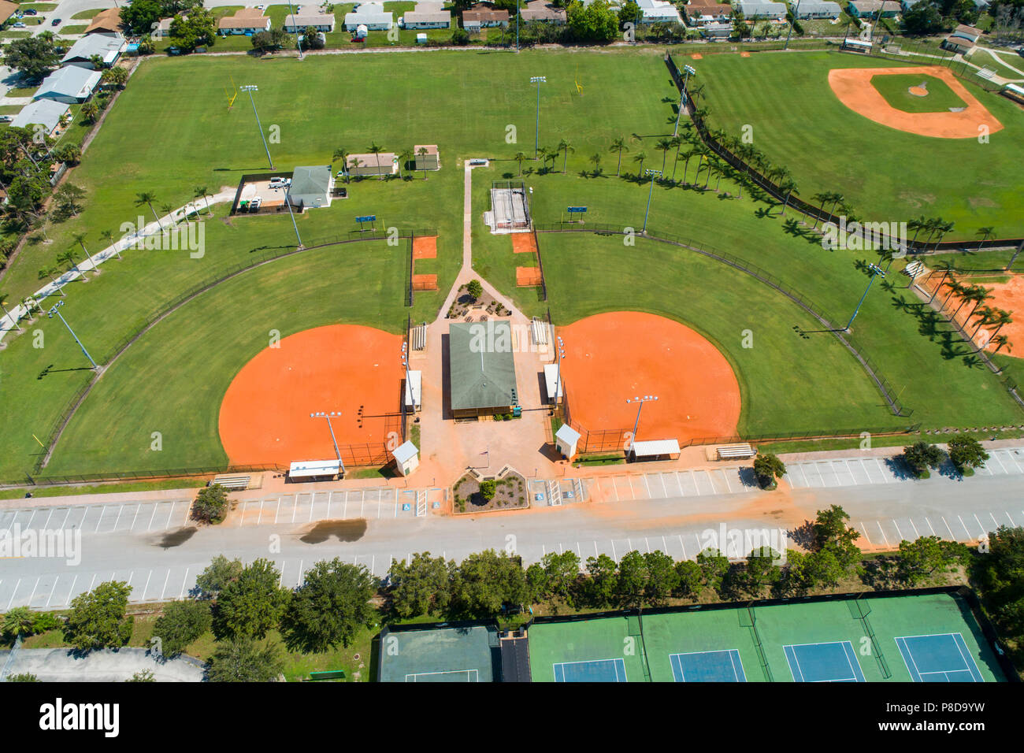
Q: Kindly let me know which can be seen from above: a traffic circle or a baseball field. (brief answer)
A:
baseball field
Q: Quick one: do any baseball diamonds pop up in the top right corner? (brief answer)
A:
Yes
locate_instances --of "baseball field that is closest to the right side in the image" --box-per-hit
[927,270,1024,363]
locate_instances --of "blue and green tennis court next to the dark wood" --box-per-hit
[856,591,1024,753]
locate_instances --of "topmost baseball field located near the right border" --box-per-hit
[669,51,1024,238]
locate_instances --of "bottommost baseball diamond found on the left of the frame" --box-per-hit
[36,236,412,483]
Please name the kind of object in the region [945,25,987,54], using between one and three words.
building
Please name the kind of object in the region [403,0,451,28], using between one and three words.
house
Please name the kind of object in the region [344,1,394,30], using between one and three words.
house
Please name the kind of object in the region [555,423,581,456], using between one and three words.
shed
